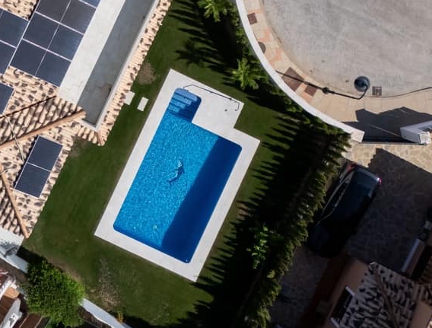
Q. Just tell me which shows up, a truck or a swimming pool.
swimming pool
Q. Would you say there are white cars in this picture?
No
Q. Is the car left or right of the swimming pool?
right of it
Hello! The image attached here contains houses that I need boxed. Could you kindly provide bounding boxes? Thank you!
[0,0,176,239]
[321,232,432,328]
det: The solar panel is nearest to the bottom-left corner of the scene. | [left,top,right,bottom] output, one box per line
[14,137,62,197]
